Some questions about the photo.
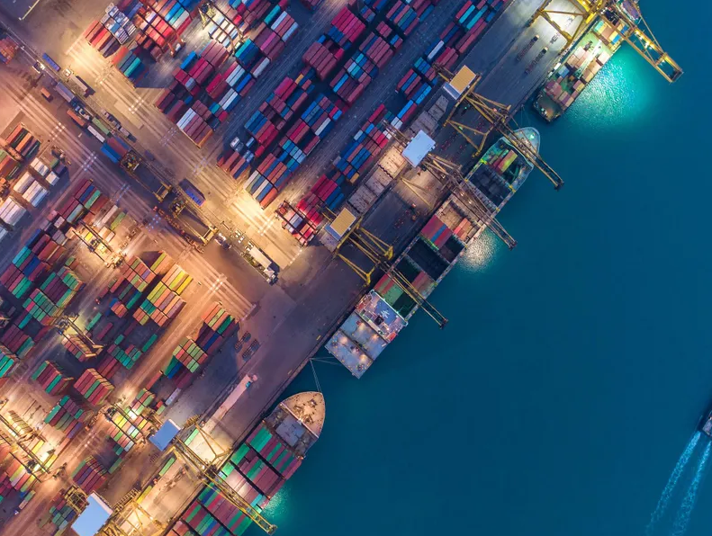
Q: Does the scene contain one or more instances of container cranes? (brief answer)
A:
Yes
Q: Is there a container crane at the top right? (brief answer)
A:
Yes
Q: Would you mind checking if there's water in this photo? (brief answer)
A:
Yes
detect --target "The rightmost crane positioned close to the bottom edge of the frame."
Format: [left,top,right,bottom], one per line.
[147,411,278,535]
